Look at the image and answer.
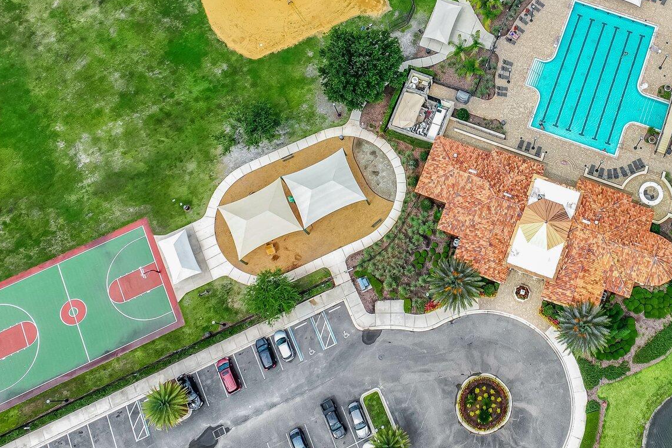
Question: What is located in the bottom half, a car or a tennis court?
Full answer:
It is a car that can be seen in the bottom half.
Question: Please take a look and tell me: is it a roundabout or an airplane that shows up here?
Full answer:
Visible in the photo is a roundabout.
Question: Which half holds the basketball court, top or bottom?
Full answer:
The bottom half of the photo is where the basketball court is.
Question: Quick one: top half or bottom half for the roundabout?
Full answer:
The bottom half of the photo is where the roundabout is.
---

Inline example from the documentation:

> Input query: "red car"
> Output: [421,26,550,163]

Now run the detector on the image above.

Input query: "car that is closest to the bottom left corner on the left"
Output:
[178,374,204,412]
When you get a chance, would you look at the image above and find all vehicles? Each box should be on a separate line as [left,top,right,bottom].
[178,374,204,412]
[273,327,295,365]
[255,335,278,373]
[288,426,310,448]
[319,396,346,442]
[217,356,242,395]
[347,401,370,440]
